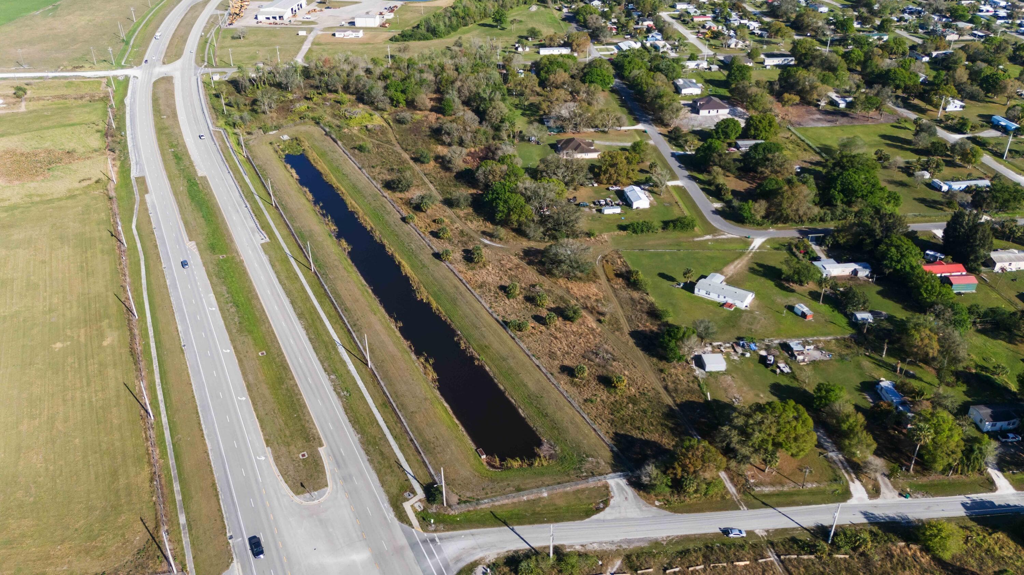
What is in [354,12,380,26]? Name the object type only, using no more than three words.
building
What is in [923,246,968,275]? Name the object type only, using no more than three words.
house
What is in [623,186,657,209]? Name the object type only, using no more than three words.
house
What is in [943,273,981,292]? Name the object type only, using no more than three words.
shed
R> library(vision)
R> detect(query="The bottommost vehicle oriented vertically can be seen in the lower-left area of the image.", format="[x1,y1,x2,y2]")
[250,533,262,554]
